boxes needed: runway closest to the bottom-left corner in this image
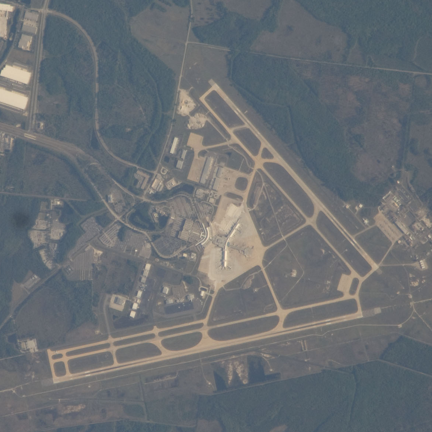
[52,312,362,383]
